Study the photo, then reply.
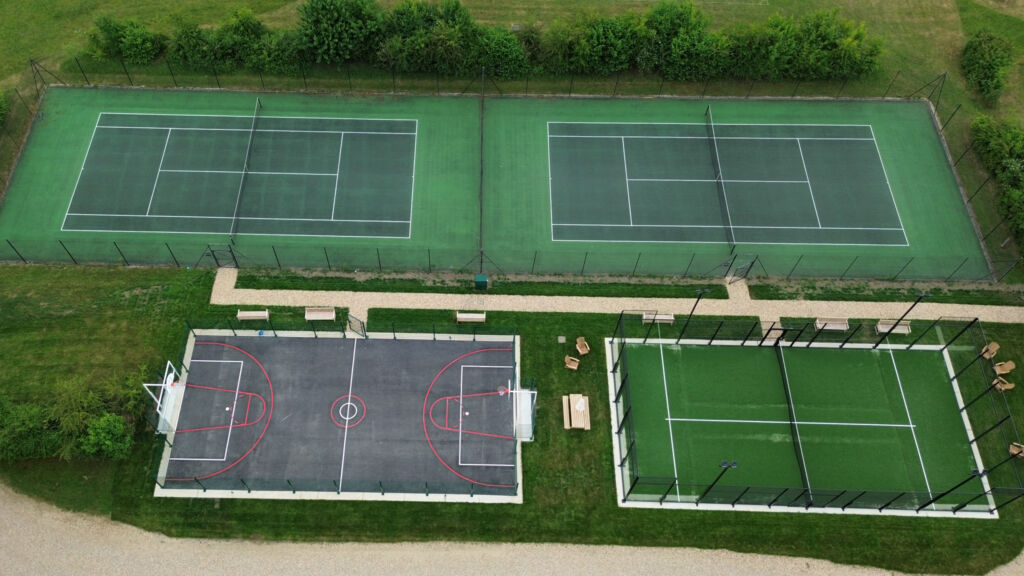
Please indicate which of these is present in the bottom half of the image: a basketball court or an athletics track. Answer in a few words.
basketball court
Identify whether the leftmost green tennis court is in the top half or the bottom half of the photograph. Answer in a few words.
top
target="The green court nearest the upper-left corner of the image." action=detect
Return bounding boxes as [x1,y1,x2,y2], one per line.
[0,86,482,272]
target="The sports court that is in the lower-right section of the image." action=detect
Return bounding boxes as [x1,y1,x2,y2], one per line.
[607,337,1000,519]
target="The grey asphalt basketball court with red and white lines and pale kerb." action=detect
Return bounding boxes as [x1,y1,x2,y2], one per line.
[153,329,538,505]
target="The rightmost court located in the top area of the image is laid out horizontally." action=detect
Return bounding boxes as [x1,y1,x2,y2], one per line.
[482,94,998,281]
